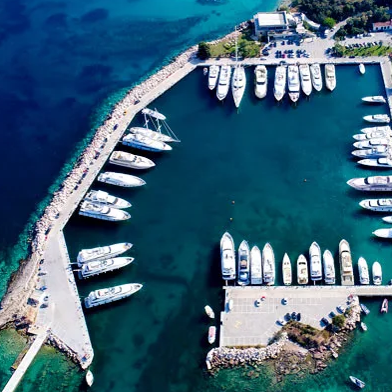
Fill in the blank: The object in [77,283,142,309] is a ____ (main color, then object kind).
white boat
